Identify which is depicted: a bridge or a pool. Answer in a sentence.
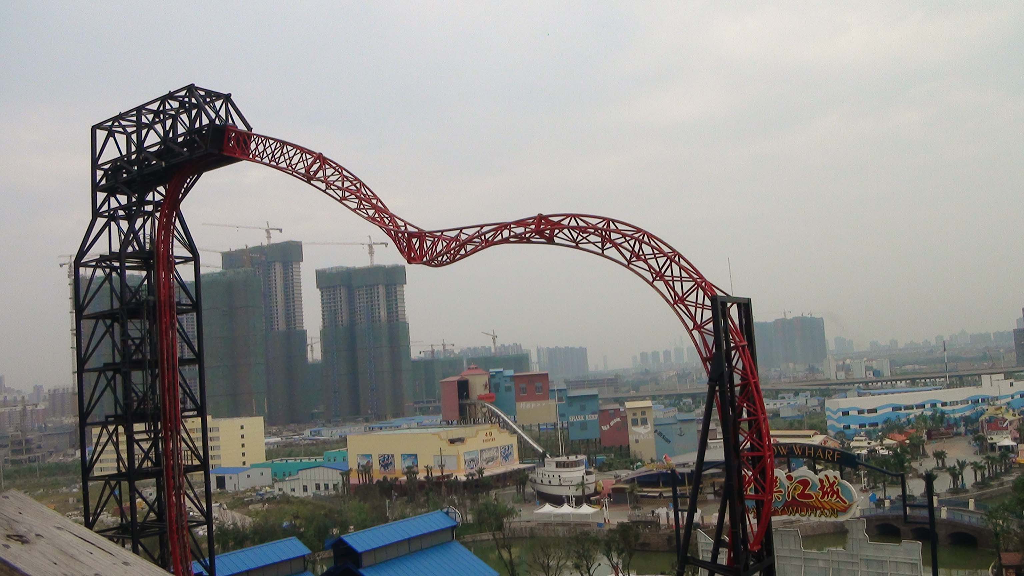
The image shows a bridge.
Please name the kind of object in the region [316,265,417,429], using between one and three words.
building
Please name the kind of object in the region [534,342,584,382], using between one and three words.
building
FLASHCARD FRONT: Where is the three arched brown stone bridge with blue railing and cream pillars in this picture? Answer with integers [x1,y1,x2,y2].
[849,496,1018,551]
